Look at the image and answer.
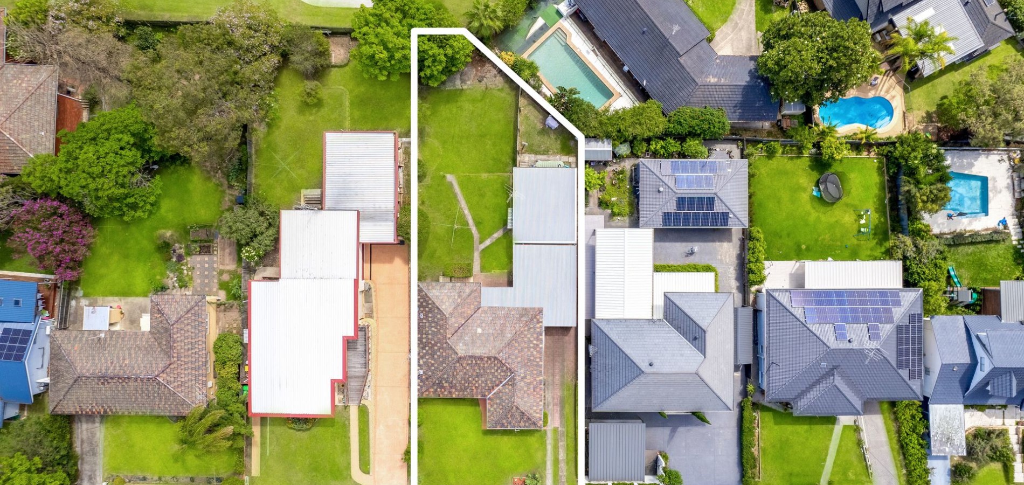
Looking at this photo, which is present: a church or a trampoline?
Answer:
trampoline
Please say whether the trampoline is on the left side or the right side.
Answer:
right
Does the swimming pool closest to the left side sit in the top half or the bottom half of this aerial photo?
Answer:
top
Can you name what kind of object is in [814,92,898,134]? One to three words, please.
swimming pool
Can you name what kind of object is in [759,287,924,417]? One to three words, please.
house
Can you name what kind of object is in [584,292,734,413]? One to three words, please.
house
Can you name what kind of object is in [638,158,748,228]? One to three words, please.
building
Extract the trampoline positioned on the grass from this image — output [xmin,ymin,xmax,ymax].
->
[819,173,852,203]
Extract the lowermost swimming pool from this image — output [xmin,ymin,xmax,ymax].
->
[942,171,989,217]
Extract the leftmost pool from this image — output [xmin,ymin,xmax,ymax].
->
[524,23,621,125]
